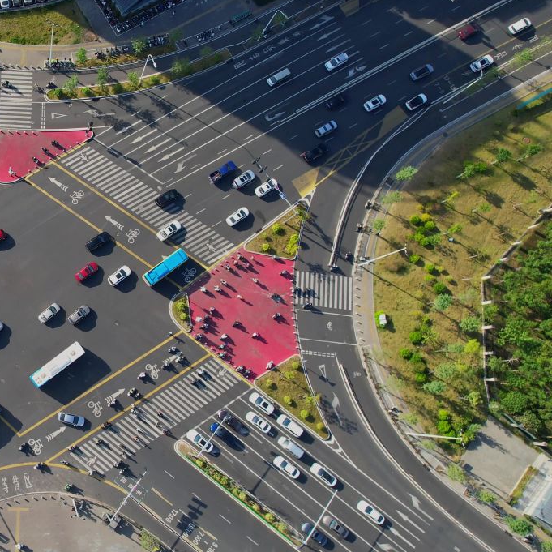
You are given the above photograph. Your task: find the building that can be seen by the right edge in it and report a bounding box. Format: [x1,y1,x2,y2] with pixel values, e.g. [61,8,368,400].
[518,478,552,544]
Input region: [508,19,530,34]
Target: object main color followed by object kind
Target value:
white car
